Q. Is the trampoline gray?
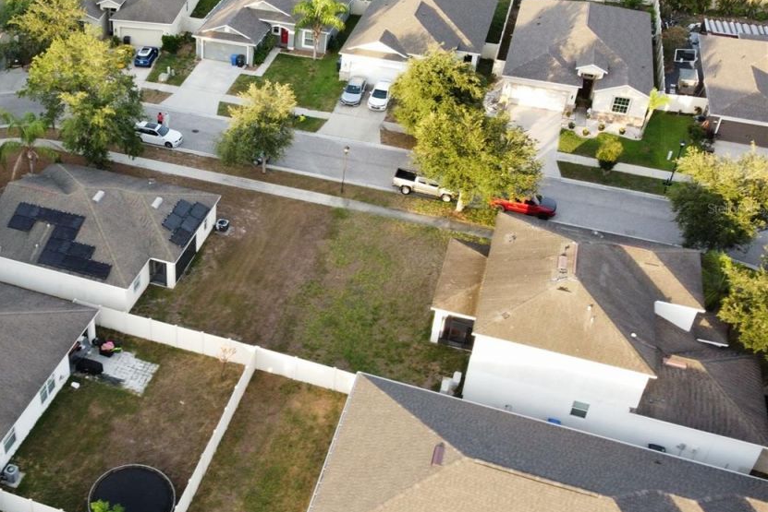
No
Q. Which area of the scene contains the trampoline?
bottom left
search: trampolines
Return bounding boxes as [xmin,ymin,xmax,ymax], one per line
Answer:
[88,467,176,512]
